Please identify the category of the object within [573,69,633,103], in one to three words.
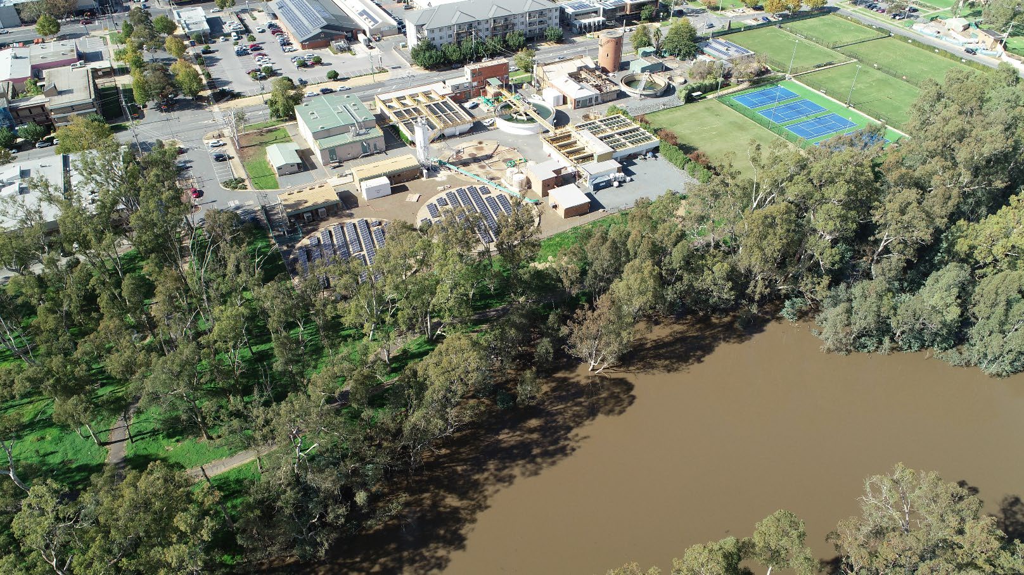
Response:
storage tank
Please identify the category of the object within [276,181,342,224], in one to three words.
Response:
building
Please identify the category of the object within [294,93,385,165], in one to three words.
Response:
building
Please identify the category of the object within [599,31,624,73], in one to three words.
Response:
water tower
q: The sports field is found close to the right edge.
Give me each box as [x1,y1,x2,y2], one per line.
[696,14,1024,186]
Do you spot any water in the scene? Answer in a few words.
Yes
